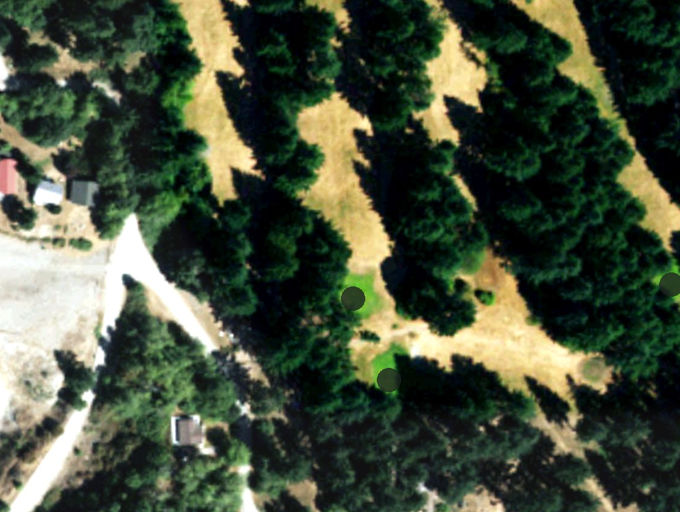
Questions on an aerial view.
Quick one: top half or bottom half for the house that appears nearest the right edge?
bottom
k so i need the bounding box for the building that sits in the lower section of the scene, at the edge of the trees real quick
[171,413,210,457]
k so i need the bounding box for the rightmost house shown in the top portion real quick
[70,182,97,207]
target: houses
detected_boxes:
[32,181,63,207]
[0,159,17,198]
[171,413,210,457]
[70,182,97,207]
